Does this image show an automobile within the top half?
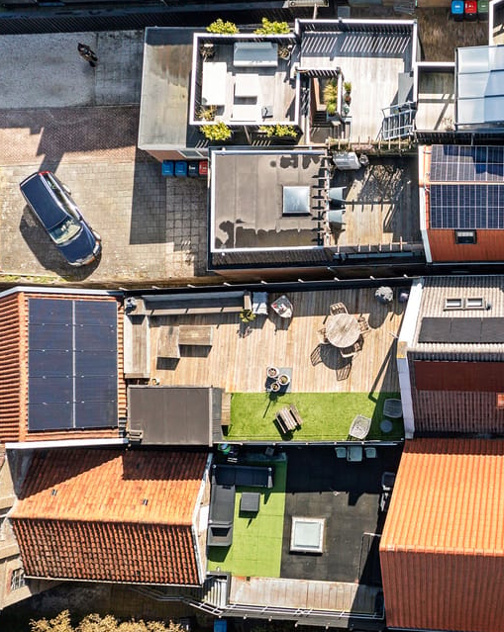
Yes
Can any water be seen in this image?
No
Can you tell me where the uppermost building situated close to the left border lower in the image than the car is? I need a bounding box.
[0,282,128,442]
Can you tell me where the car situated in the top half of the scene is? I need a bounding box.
[20,166,100,262]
